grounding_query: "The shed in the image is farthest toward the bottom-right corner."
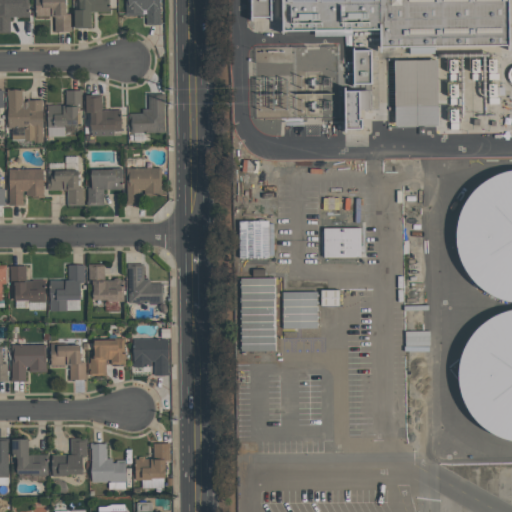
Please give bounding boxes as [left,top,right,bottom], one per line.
[406,332,431,346]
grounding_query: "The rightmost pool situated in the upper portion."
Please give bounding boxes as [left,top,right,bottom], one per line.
[145,149,166,166]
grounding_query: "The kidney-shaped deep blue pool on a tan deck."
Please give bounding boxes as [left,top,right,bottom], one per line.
[22,150,44,167]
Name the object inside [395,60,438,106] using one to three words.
building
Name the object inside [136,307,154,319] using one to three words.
swimming pool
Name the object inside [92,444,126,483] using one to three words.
house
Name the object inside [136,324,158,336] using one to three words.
swimming pool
